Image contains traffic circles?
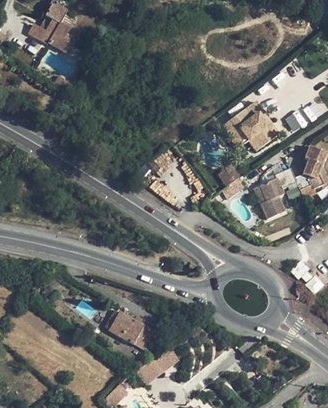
Yes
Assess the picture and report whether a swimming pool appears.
Yes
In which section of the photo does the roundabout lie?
bottom right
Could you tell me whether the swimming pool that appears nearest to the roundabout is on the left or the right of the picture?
right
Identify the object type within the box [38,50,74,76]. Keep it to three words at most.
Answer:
swimming pool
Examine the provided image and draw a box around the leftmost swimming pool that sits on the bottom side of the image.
[74,300,105,324]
